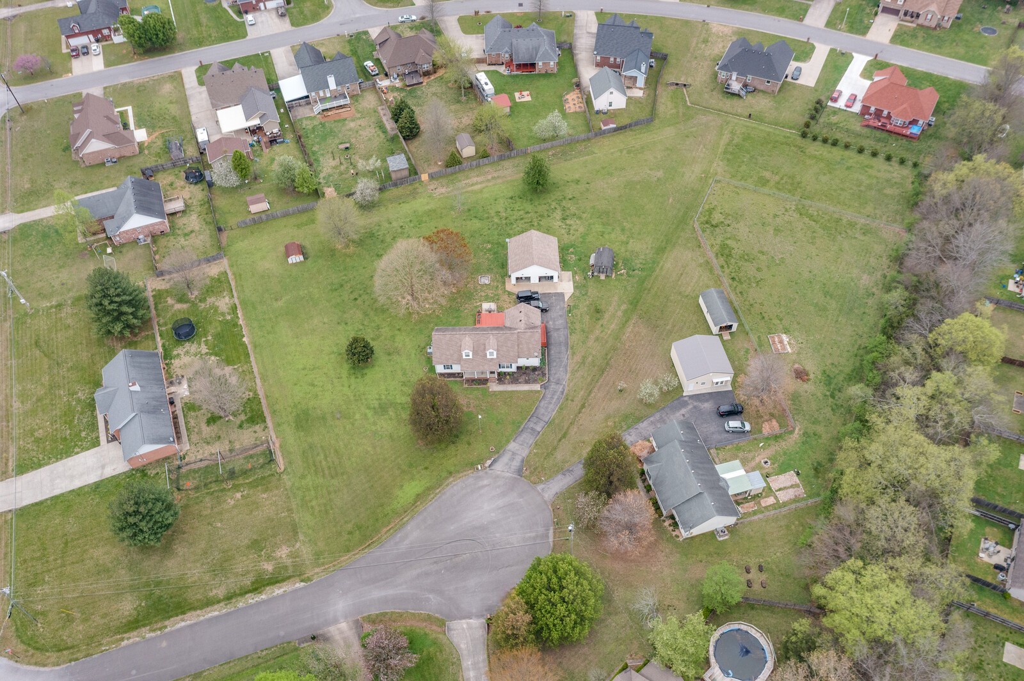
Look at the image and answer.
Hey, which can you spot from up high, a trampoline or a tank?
trampoline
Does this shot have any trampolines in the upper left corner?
Yes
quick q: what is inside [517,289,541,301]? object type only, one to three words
vehicle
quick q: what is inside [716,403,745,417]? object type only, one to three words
car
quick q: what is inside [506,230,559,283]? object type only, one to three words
building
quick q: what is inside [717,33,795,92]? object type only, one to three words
house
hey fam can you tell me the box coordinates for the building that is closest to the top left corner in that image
[54,0,124,44]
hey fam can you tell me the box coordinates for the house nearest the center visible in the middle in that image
[432,300,543,382]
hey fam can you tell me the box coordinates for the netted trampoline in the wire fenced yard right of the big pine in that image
[170,317,196,341]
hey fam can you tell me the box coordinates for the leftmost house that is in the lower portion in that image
[94,350,179,468]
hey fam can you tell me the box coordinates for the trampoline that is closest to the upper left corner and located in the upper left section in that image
[182,164,203,183]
